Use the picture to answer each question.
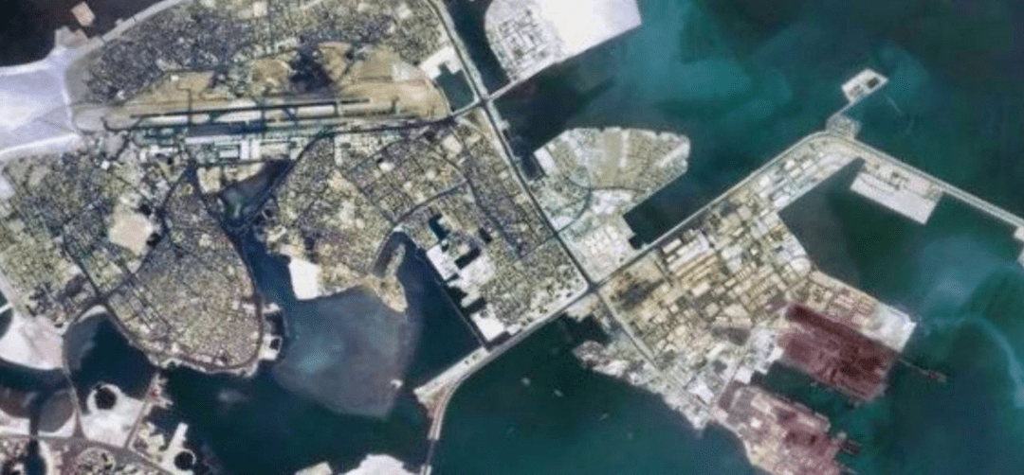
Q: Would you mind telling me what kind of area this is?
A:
port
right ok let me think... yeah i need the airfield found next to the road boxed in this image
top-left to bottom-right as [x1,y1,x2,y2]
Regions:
[68,40,449,163]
